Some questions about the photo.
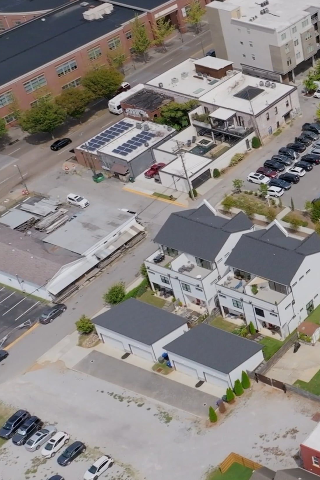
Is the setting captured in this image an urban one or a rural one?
urban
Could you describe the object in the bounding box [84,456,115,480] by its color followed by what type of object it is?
white car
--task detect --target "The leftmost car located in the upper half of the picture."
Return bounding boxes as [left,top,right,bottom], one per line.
[49,140,73,152]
